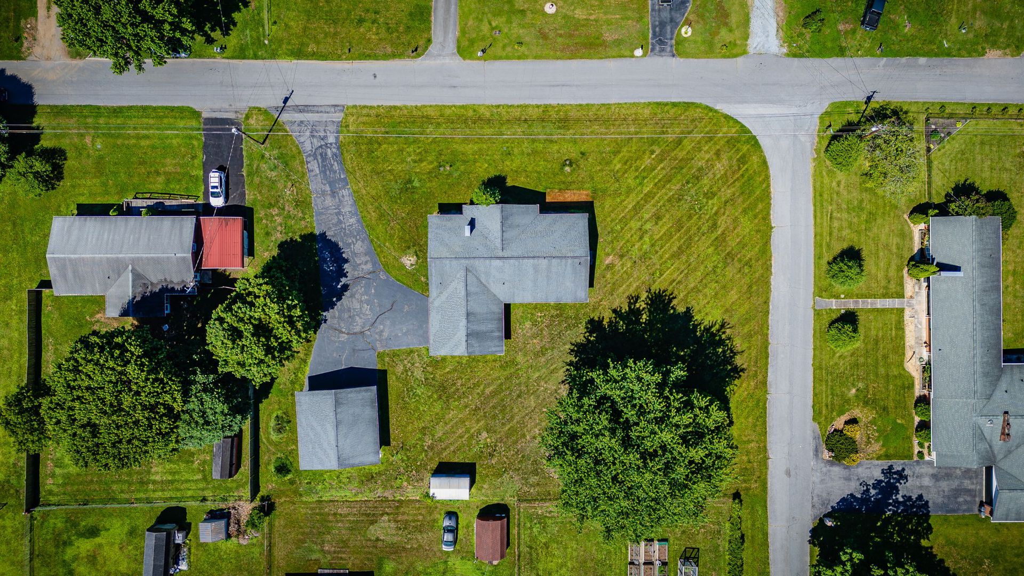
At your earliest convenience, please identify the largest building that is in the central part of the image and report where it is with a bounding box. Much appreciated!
[426,203,590,356]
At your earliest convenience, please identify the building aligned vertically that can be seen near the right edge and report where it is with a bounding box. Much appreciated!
[921,215,1024,522]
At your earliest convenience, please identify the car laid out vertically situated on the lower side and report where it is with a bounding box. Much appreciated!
[441,512,458,552]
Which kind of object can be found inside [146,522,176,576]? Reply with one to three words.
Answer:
shed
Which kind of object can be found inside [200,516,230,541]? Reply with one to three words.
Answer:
shed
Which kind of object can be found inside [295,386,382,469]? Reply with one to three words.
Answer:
building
